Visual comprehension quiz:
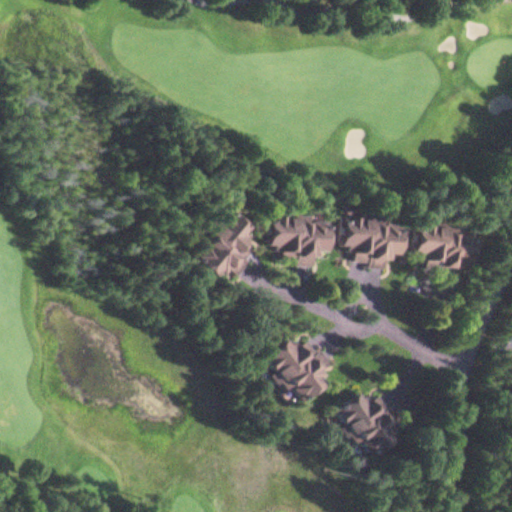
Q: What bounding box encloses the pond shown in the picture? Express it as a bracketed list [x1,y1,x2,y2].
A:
[44,303,182,423]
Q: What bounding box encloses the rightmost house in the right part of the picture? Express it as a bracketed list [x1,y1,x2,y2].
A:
[419,222,482,276]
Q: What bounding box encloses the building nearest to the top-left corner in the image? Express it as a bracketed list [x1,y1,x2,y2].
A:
[200,215,261,285]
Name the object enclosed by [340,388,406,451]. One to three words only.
house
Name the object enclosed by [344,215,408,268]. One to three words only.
house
